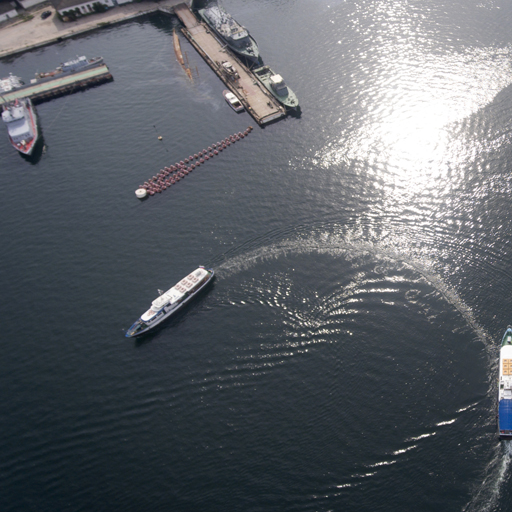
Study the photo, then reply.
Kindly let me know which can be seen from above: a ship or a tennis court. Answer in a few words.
ship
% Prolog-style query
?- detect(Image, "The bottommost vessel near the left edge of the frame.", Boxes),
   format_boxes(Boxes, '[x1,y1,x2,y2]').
[1,95,37,155]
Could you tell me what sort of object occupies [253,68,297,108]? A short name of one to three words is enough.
boat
